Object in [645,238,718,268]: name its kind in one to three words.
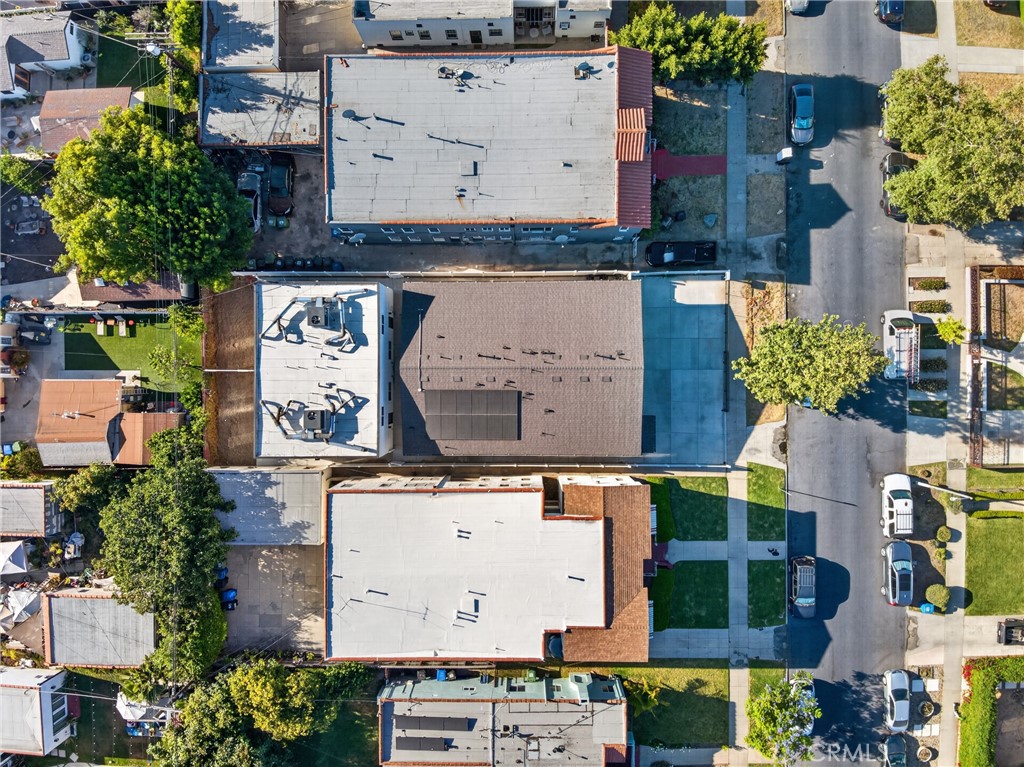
truck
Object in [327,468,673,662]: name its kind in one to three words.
house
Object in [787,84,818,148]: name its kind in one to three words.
car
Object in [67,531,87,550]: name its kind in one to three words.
umbrella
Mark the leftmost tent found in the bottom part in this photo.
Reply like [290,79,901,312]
[0,538,45,573]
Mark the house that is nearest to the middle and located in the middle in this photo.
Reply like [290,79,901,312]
[398,278,646,460]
